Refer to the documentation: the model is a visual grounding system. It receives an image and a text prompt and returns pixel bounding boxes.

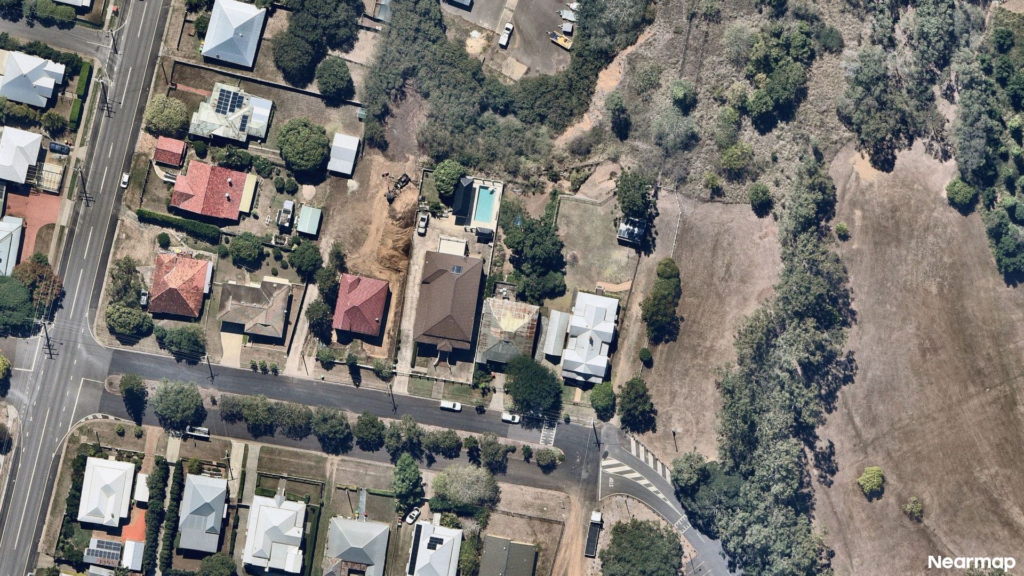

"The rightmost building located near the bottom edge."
[478,534,536,576]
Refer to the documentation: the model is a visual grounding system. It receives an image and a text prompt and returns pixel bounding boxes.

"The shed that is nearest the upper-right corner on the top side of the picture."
[617,216,648,244]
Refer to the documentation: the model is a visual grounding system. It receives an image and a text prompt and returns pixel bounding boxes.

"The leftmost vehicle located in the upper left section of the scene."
[48,142,71,154]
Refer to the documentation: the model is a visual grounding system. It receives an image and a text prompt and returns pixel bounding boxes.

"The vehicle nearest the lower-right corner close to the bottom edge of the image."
[584,511,601,556]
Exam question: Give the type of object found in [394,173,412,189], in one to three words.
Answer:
vehicle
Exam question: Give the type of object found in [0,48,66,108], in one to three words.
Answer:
house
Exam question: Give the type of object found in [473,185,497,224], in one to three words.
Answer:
swimming pool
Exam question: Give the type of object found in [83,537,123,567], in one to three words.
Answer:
shed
